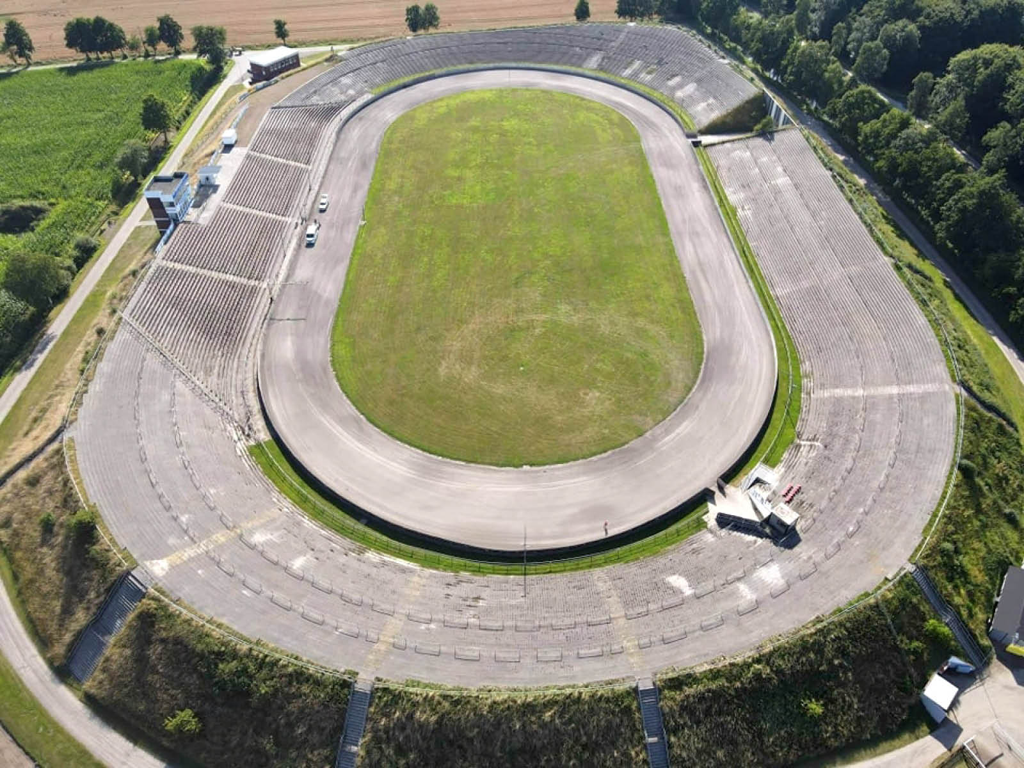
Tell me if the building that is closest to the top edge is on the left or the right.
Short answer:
left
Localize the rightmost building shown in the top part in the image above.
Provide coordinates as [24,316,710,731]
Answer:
[243,48,301,81]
